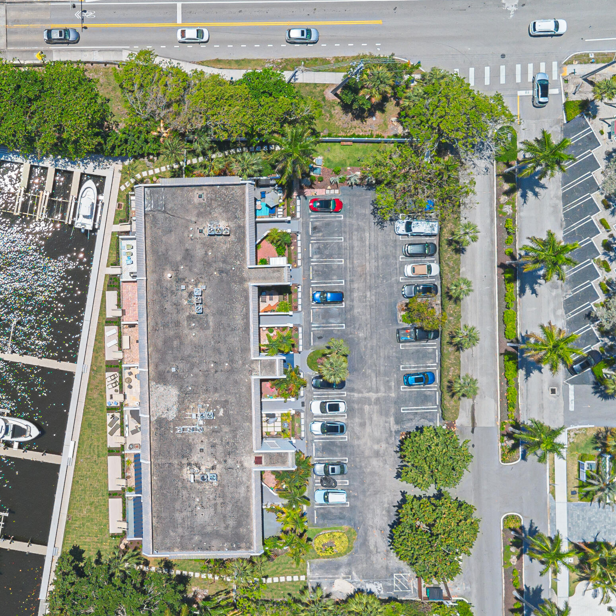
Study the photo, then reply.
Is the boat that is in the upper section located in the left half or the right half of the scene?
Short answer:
left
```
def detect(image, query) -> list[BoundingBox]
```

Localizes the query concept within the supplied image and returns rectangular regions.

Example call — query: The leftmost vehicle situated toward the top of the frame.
[43,26,79,44]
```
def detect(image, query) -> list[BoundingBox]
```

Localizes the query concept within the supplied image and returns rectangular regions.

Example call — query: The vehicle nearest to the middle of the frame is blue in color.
[311,289,345,306]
